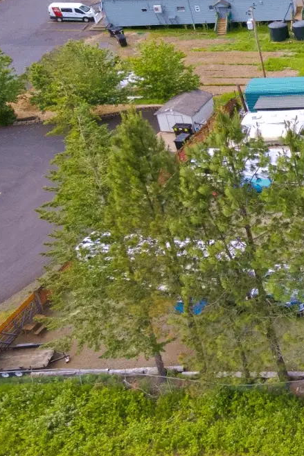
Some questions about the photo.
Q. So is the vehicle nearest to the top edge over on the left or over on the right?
left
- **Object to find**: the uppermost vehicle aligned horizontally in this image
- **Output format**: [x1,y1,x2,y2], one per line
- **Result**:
[48,0,97,22]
